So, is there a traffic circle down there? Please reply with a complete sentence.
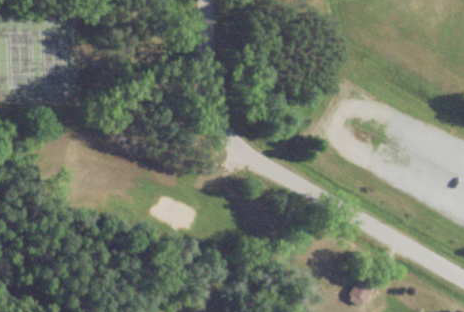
No, I can't see a single traffic circle in this photo.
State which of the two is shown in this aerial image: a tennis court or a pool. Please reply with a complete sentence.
This aerial view contains a tennis court.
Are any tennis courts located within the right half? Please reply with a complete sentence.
No, no tennis court can be made out within the right half.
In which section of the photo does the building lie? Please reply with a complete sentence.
The building is located in the bottom right region of the scene.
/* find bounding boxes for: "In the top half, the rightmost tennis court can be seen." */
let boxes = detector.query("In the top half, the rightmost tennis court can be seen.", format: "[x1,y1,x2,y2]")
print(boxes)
[38,22,79,100]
